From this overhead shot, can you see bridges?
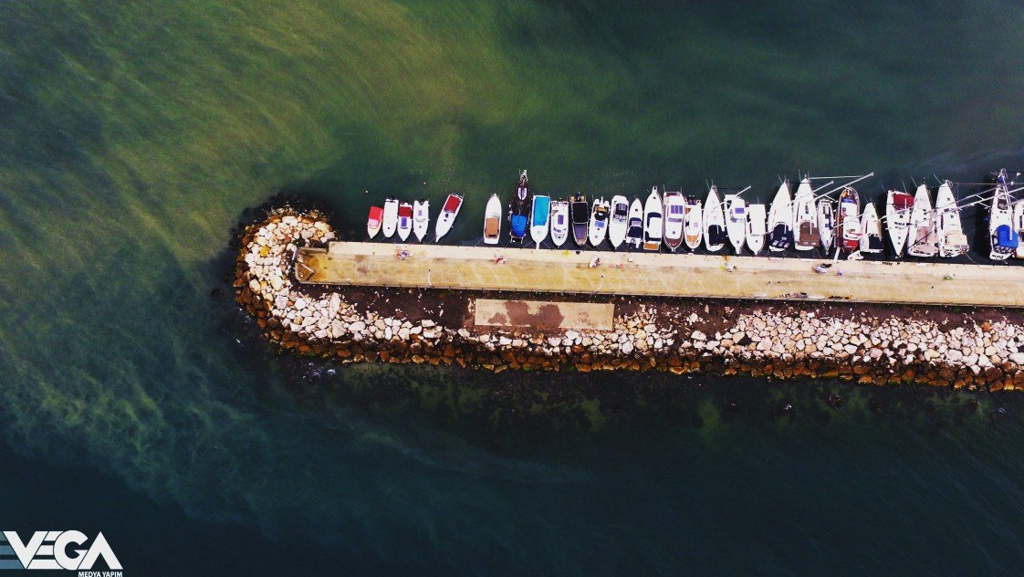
No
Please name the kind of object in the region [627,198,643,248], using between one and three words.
boat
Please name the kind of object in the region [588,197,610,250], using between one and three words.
boat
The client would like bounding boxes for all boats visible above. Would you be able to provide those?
[682,195,706,254]
[483,194,501,246]
[1009,188,1024,261]
[607,195,629,251]
[813,196,860,257]
[829,186,858,262]
[659,193,686,253]
[523,193,551,248]
[744,201,768,256]
[414,197,430,243]
[395,201,413,243]
[571,196,589,249]
[792,172,872,258]
[642,183,662,253]
[701,181,752,255]
[364,204,384,242]
[506,172,532,247]
[627,198,643,248]
[852,196,918,257]
[588,197,610,250]
[720,196,745,255]
[765,175,833,257]
[428,192,463,243]
[983,170,1024,264]
[550,199,569,249]
[379,197,399,242]
[882,188,968,261]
